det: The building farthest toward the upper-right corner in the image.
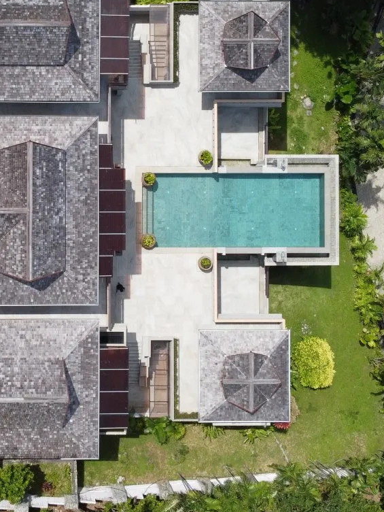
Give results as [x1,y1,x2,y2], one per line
[198,0,289,92]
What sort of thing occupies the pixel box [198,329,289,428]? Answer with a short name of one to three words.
building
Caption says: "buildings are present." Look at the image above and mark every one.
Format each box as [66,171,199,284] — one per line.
[198,329,289,428]
[0,116,125,307]
[0,0,130,103]
[0,319,129,461]
[198,0,289,92]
